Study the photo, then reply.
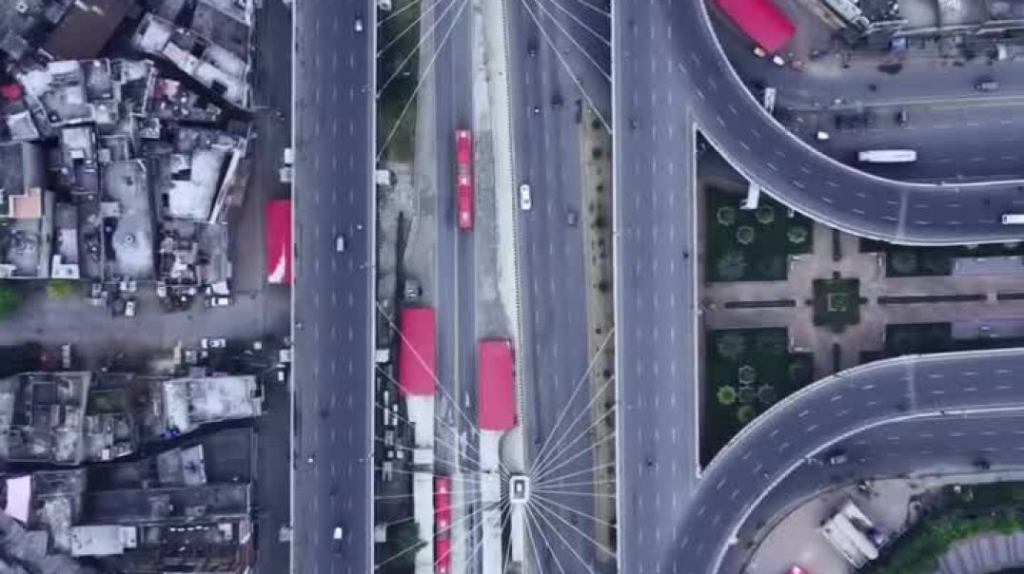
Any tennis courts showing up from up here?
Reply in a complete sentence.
No, no tennis court is visible in the scene.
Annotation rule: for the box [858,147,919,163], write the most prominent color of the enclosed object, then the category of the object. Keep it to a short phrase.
white vehicle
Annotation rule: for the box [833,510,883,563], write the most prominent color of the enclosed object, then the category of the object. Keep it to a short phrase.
white truck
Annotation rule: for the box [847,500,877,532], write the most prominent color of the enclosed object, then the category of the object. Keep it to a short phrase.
white truck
